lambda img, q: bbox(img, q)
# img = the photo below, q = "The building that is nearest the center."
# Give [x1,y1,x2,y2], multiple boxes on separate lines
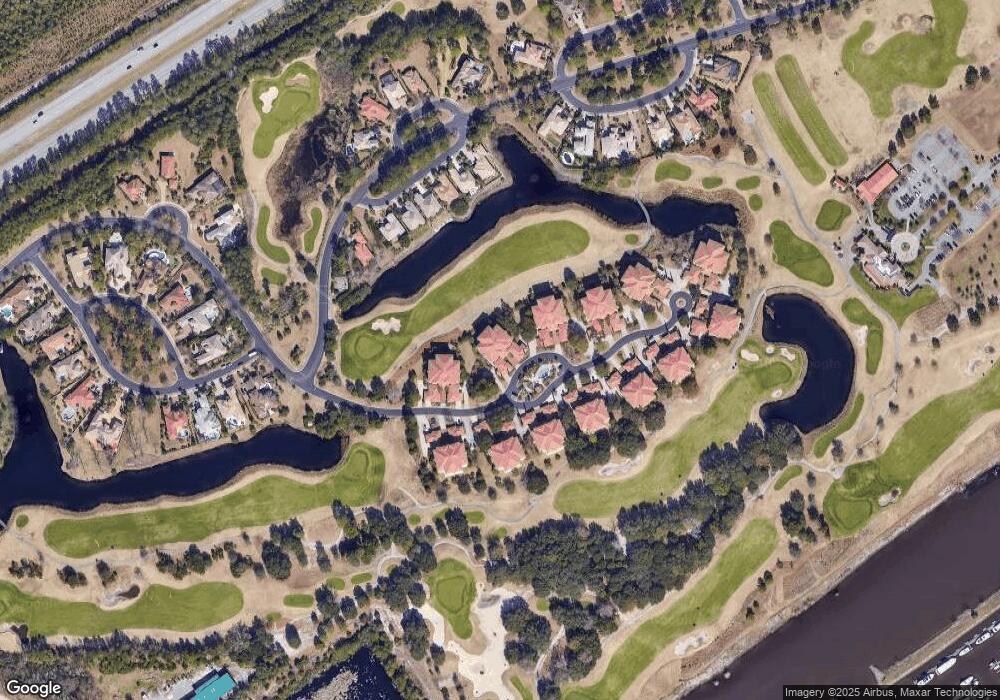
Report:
[477,325,526,376]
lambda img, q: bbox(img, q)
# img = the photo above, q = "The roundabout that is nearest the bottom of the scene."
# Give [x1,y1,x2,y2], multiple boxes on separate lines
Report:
[515,360,562,401]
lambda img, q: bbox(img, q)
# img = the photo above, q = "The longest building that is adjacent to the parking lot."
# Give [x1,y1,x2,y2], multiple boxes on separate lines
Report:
[853,233,913,293]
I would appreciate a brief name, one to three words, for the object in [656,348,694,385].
building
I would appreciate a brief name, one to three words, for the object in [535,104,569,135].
house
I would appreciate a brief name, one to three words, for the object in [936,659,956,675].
boat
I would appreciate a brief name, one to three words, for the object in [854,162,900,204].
barn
